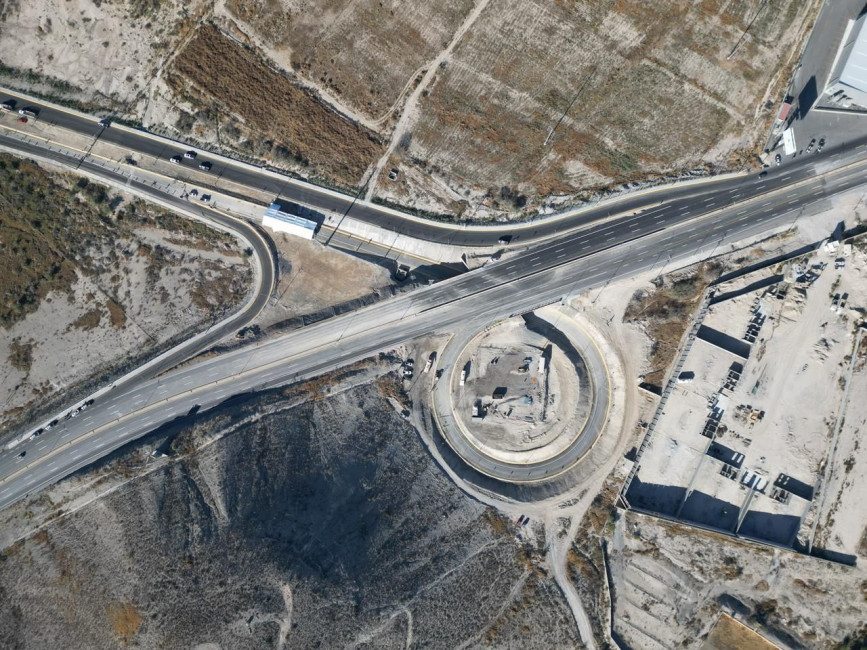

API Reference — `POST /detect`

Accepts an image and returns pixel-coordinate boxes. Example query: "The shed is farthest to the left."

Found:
[257,201,315,244]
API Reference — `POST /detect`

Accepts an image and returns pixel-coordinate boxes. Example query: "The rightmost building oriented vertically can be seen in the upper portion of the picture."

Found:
[826,10,867,107]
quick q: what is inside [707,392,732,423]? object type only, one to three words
building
